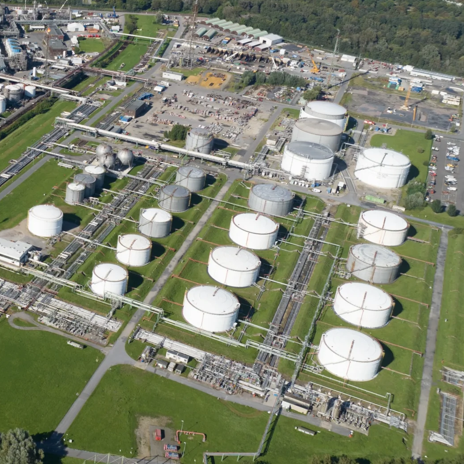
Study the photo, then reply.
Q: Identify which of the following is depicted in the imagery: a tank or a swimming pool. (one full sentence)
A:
It is a tank that can be seen here.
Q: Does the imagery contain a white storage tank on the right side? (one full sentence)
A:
Yes, I can see a white storage tank on the right side.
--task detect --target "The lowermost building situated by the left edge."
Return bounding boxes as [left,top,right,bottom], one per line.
[0,236,32,267]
